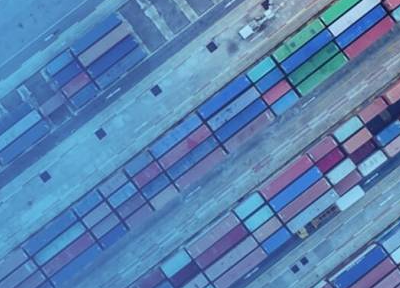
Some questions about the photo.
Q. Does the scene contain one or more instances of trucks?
Yes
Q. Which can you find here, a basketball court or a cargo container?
cargo container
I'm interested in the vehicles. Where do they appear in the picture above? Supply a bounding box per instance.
[294,198,351,243]
[239,0,273,36]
